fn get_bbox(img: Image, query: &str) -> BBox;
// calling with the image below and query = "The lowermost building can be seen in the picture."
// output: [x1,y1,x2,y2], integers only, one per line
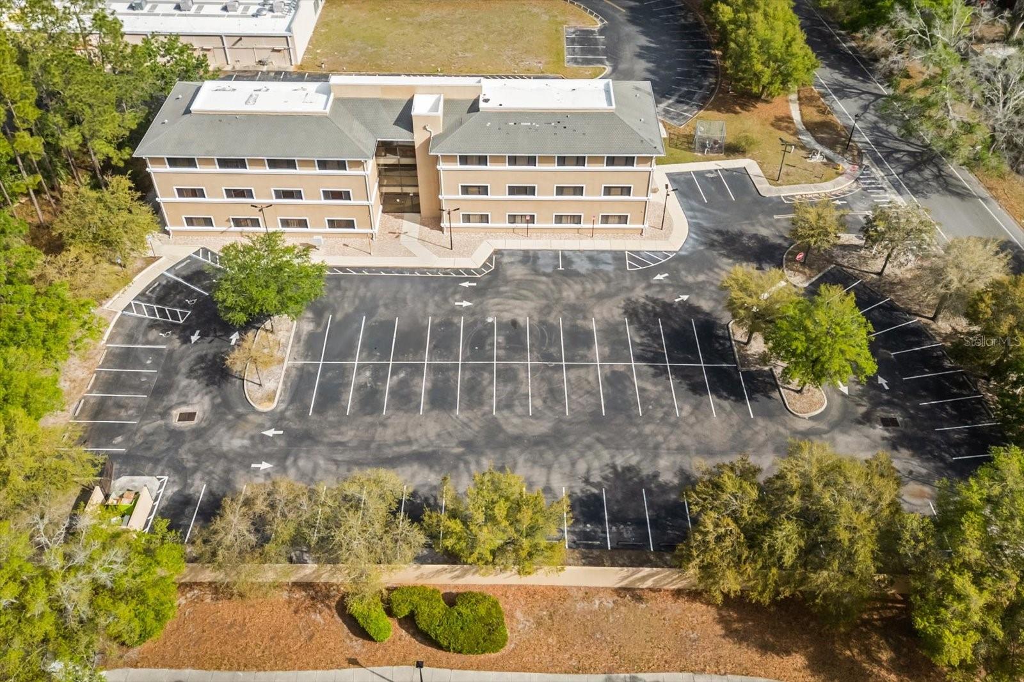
[131,73,663,243]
